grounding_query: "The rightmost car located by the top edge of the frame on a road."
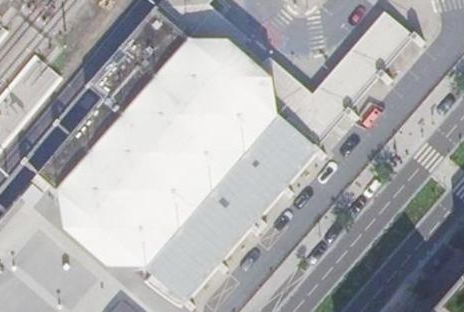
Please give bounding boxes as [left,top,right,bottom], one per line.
[347,5,366,25]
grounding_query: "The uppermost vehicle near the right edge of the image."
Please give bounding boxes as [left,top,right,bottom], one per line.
[436,93,456,115]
